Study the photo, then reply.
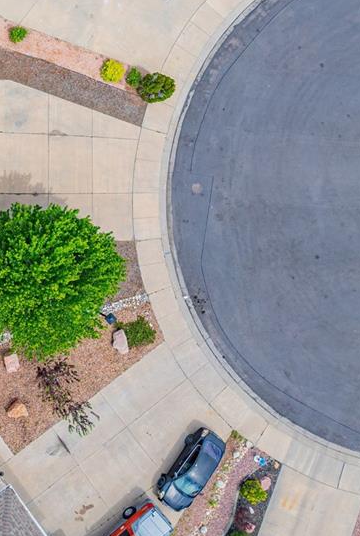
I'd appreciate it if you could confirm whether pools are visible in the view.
No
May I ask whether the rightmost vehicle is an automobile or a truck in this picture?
automobile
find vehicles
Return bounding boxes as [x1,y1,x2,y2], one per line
[159,433,227,512]
[106,500,174,536]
